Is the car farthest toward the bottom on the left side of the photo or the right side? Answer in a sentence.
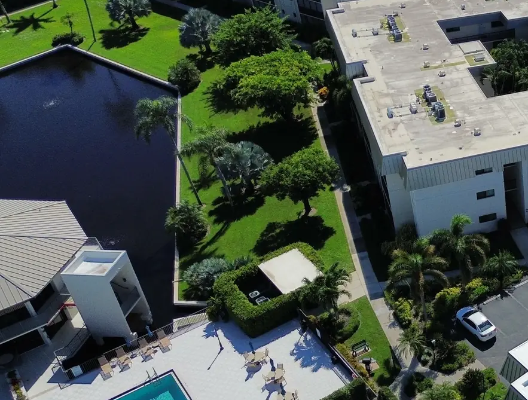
The car farthest toward the bottom appears in the right half of the scene.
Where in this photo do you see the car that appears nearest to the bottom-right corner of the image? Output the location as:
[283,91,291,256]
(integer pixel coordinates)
[455,307,501,344]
